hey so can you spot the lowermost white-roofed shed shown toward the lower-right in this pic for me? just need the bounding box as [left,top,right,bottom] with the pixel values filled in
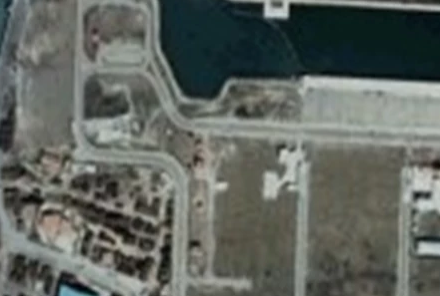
[418,241,440,255]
